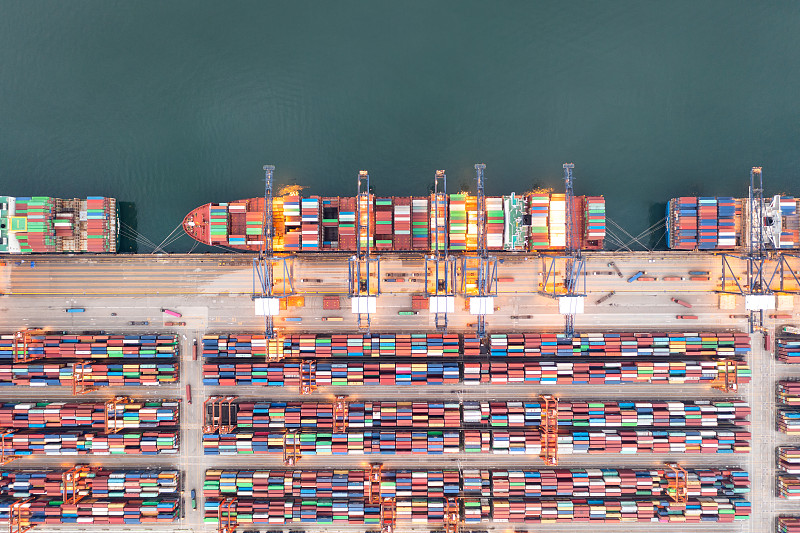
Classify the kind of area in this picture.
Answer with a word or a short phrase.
port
